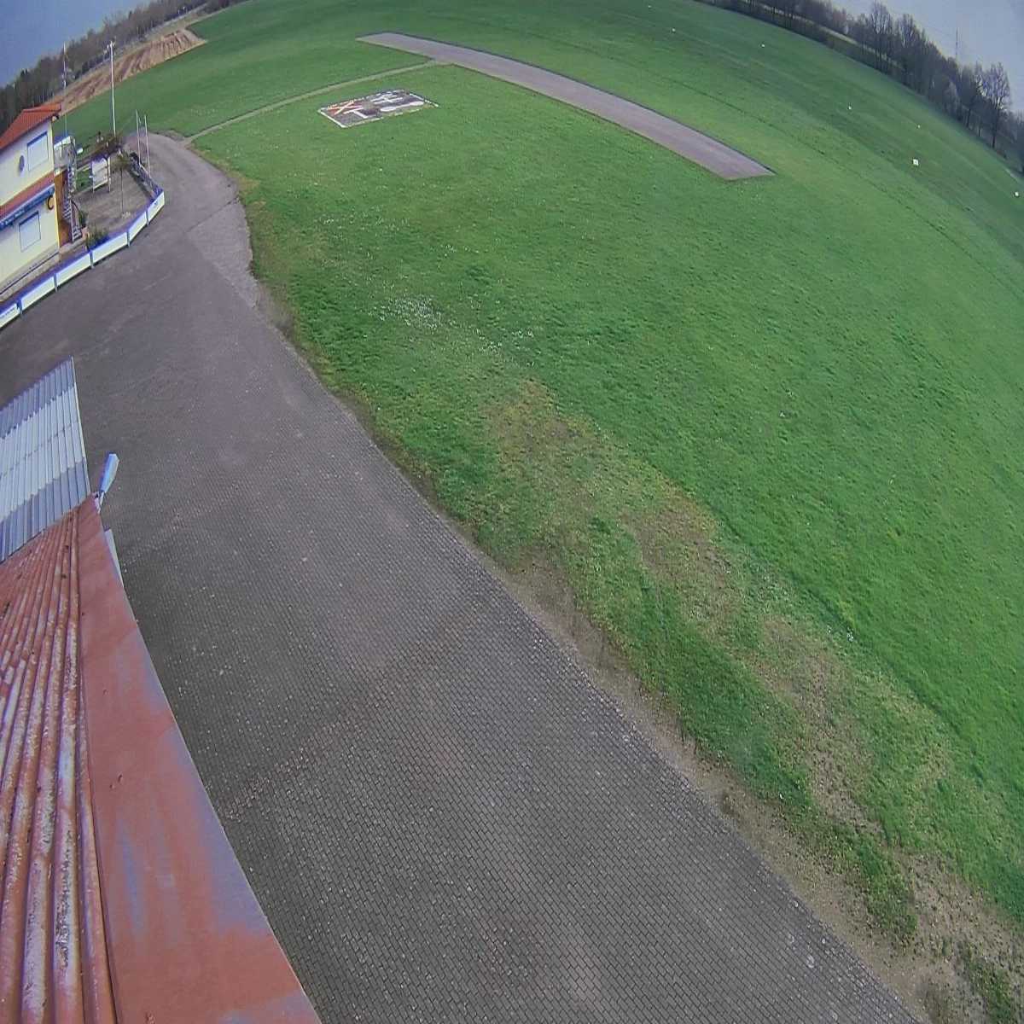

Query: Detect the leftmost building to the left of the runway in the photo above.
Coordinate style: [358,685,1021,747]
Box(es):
[0,104,77,283]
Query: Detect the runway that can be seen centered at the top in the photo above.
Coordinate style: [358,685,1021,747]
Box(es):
[358,33,772,179]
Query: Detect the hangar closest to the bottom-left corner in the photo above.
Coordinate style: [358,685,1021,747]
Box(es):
[0,498,327,1024]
